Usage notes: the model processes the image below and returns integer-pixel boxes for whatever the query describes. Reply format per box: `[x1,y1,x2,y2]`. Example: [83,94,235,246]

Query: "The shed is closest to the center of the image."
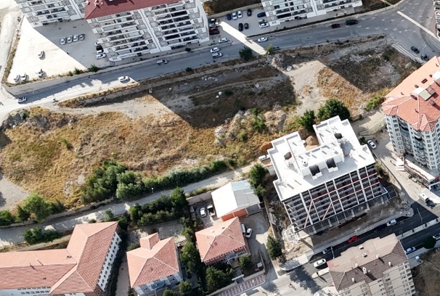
[212,179,262,222]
